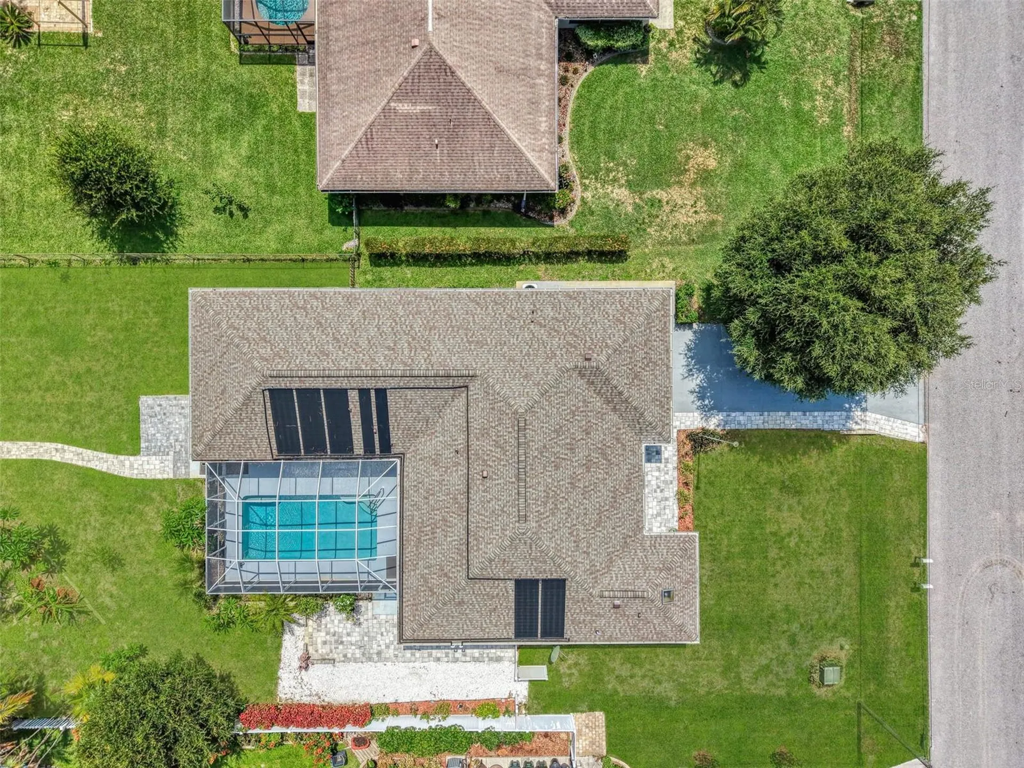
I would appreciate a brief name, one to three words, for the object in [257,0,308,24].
swimming pool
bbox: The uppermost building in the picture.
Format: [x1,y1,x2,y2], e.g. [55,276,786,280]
[316,0,661,211]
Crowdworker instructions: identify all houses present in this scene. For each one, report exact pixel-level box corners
[316,0,661,211]
[188,286,700,646]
